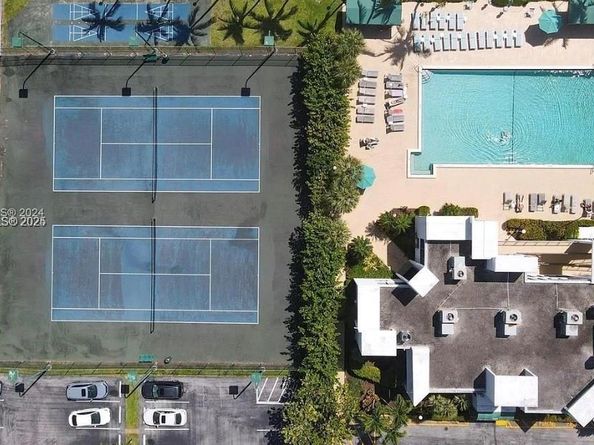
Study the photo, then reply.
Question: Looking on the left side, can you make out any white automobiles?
Yes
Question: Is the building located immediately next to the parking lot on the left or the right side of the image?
right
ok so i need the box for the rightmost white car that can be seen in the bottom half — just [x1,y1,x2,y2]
[144,407,187,428]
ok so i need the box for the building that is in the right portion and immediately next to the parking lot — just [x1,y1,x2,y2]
[354,217,594,427]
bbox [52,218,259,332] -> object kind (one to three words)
tennis court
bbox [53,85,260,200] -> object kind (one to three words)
tennis court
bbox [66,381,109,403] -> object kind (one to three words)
car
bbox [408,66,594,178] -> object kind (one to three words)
swimming pool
